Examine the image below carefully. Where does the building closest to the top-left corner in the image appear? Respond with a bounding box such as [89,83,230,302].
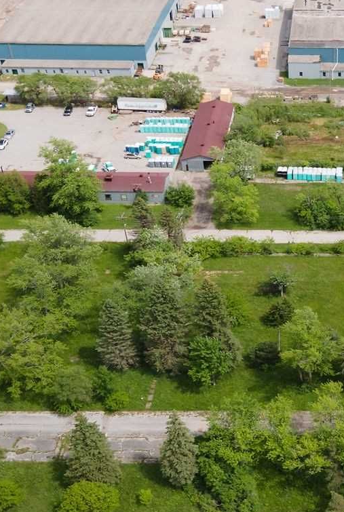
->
[0,0,177,77]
